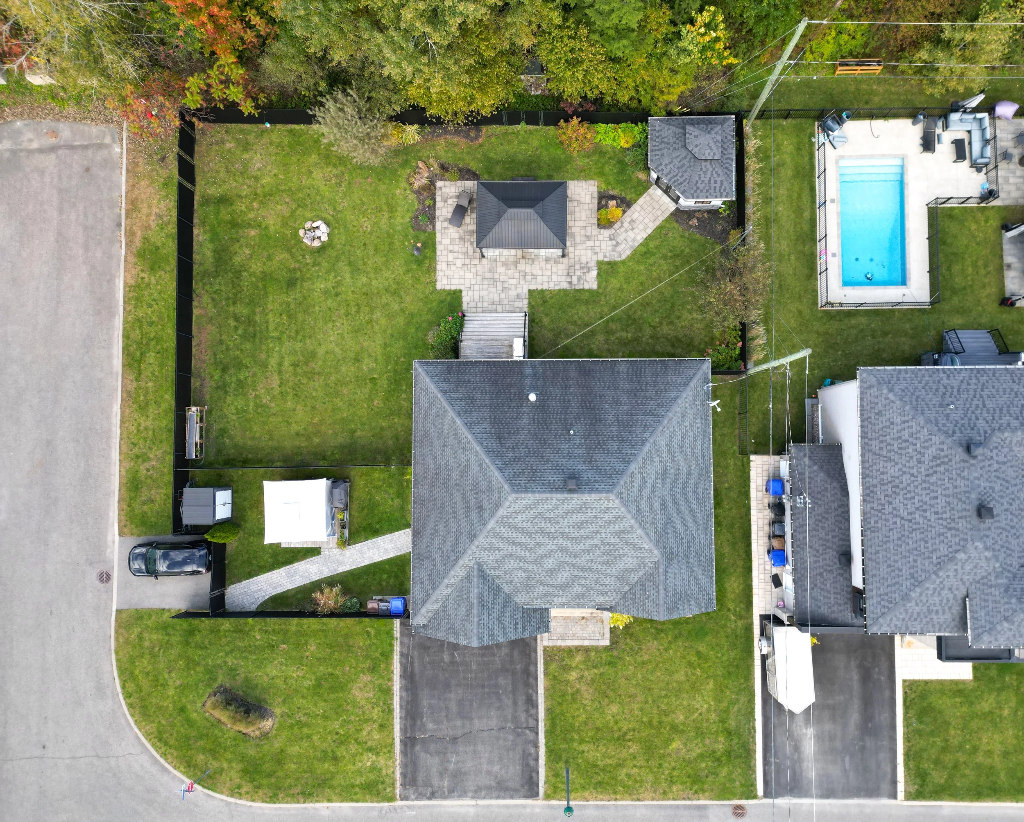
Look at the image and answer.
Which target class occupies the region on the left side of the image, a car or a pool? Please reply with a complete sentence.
What appears on the left side of the image is a car.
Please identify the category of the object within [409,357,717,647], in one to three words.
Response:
house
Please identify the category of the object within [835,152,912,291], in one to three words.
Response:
swimming pool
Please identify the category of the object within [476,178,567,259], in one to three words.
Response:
gazebo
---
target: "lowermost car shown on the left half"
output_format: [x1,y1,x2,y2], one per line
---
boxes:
[131,541,211,583]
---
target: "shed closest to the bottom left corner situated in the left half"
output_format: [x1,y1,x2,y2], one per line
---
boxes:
[179,487,233,524]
